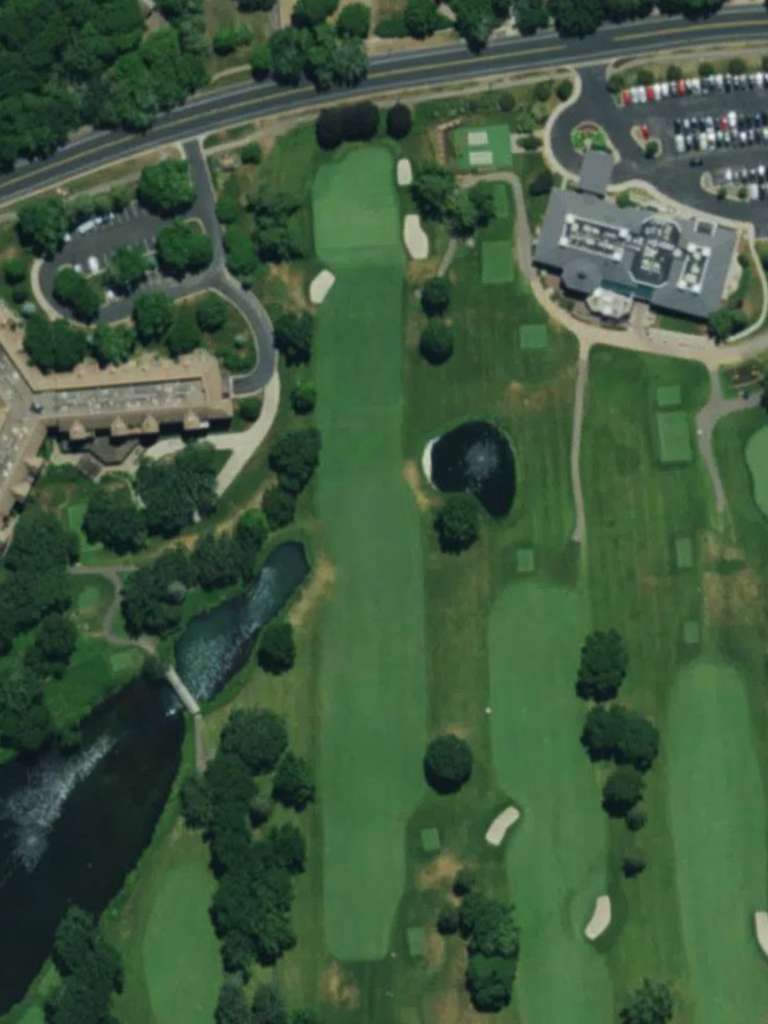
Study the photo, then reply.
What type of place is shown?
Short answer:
golf course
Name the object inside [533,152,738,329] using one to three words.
building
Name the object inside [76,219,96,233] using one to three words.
vehicle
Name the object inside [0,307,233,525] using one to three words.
building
